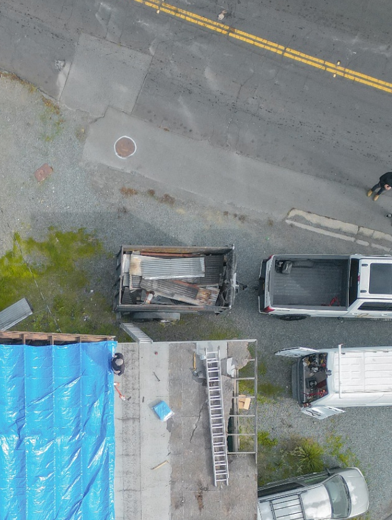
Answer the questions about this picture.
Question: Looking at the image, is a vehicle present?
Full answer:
Yes, there's a vehicle here.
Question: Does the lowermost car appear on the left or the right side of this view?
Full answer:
It is on the right.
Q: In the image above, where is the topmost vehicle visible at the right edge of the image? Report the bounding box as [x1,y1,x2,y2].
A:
[249,254,392,322]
